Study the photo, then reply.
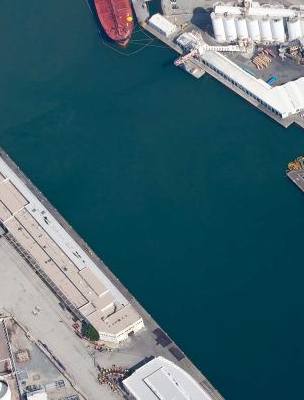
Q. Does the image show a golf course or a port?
port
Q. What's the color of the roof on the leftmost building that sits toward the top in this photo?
white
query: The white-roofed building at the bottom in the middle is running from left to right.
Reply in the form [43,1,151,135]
[123,355,215,400]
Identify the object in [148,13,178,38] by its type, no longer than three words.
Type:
building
